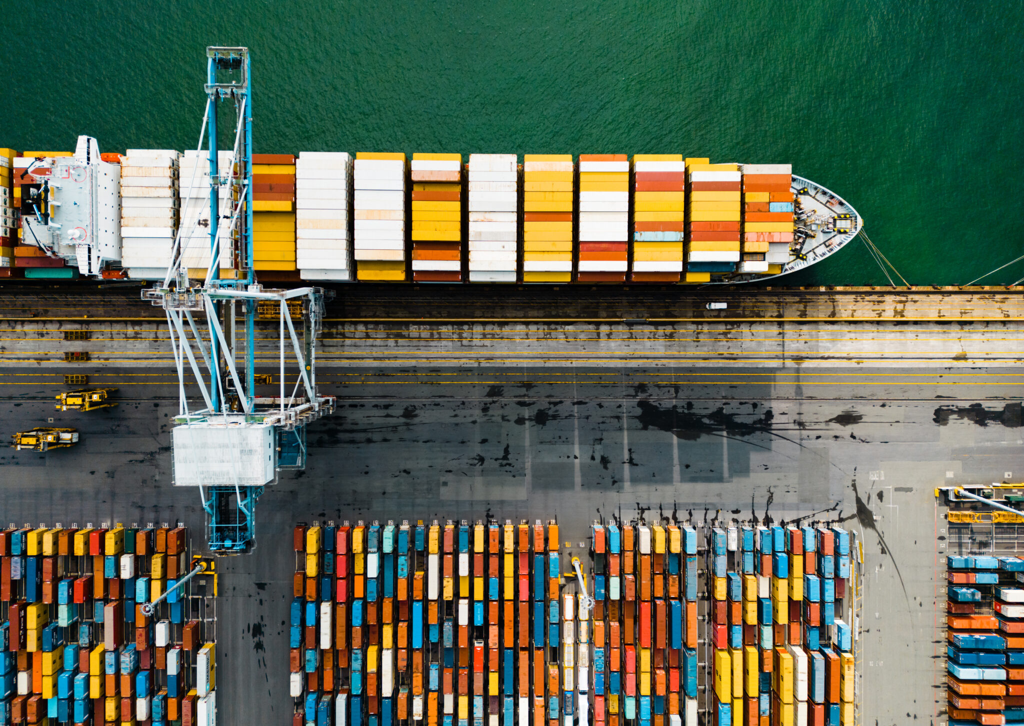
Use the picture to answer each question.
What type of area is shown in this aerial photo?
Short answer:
port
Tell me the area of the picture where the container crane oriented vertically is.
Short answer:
left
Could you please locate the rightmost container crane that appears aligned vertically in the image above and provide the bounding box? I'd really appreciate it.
[143,45,342,558]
